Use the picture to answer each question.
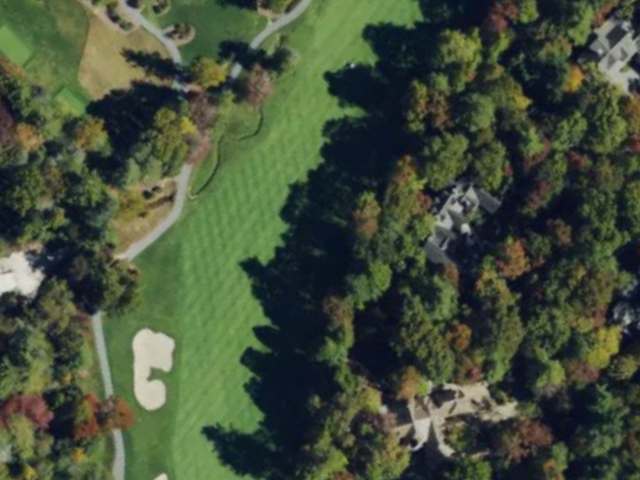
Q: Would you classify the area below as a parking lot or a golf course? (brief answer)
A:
golf course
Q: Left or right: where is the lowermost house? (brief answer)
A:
right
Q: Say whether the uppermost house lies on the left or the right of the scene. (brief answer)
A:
right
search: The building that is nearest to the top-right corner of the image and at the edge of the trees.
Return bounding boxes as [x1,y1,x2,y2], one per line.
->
[585,17,640,75]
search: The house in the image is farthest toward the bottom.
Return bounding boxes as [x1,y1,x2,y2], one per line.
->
[387,379,520,451]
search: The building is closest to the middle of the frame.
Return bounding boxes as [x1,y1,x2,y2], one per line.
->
[422,182,502,267]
